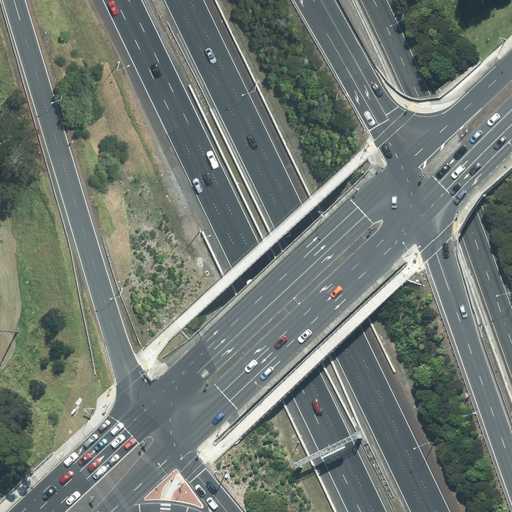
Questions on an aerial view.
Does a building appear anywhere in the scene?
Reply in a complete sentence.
No, this view has no building in it.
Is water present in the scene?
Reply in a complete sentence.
No, the scene doesn't show any water.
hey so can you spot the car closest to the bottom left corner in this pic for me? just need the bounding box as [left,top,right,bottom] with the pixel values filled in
[42,486,57,500]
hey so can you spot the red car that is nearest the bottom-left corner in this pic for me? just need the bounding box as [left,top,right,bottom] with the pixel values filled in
[59,470,74,485]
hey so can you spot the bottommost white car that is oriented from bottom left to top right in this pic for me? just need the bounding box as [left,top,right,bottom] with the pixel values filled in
[66,492,80,506]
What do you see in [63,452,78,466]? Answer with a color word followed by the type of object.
white car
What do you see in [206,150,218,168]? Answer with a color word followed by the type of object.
white vehicle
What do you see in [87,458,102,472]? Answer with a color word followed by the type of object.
red car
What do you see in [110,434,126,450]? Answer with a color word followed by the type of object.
white vehicle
